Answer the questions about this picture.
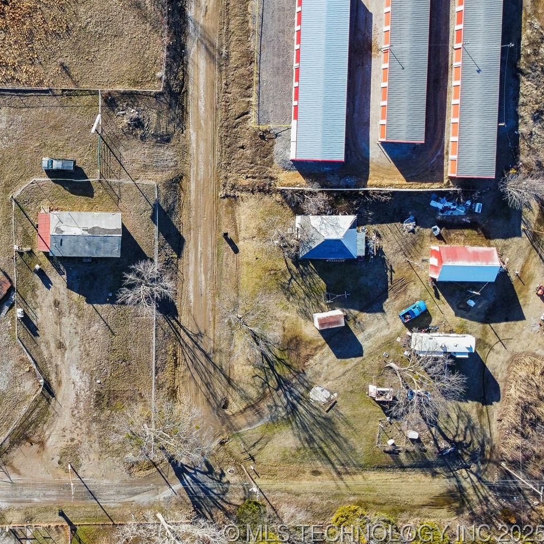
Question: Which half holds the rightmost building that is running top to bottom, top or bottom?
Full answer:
The rightmost building that is running top to bottom is in the top half of the image.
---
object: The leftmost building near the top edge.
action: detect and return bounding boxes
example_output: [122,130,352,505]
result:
[287,0,350,162]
